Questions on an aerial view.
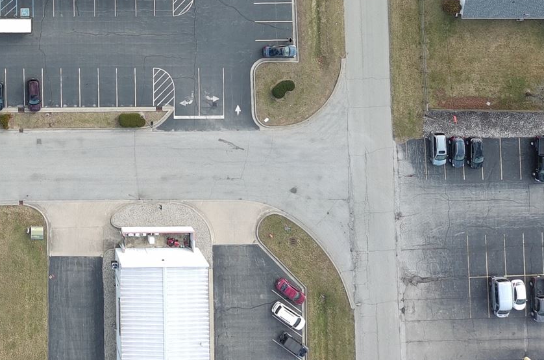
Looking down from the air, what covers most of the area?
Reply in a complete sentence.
The scene is dominated by paved ground.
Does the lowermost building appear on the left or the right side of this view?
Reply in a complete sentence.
It is on the left.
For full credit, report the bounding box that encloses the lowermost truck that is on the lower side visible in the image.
[276,329,308,358]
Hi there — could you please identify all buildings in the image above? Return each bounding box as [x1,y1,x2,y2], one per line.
[454,0,544,19]
[115,250,211,360]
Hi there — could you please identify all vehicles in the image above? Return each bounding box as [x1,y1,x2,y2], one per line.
[447,136,466,167]
[511,278,528,310]
[429,133,449,165]
[531,136,544,181]
[26,78,42,112]
[465,136,485,169]
[530,274,544,320]
[262,45,295,61]
[273,277,306,304]
[490,275,514,317]
[270,301,306,329]
[276,329,308,358]
[0,81,6,111]
[0,18,31,38]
